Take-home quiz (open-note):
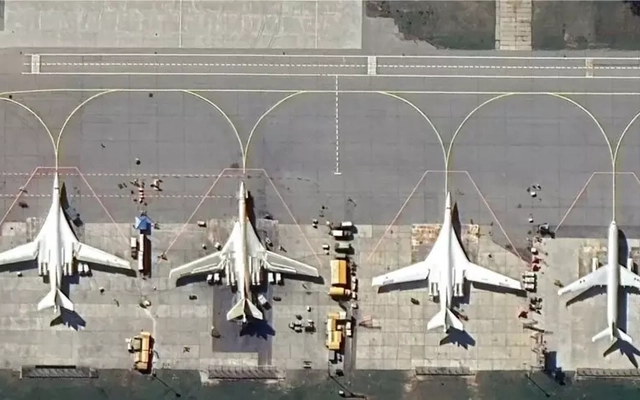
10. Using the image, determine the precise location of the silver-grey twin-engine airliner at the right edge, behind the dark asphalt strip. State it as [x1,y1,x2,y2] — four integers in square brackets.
[558,222,640,344]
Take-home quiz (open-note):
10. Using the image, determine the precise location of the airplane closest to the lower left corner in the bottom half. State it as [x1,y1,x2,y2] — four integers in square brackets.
[0,172,130,311]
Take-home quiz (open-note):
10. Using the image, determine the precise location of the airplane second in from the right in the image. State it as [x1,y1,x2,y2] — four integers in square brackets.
[372,192,521,331]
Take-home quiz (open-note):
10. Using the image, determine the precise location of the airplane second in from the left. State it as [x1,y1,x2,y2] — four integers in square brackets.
[168,179,318,320]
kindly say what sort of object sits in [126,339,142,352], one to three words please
vehicle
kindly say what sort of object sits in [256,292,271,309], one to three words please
vehicle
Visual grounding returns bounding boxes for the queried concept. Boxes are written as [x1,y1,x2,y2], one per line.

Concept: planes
[168,179,318,320]
[0,172,130,311]
[558,222,640,344]
[372,192,521,331]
